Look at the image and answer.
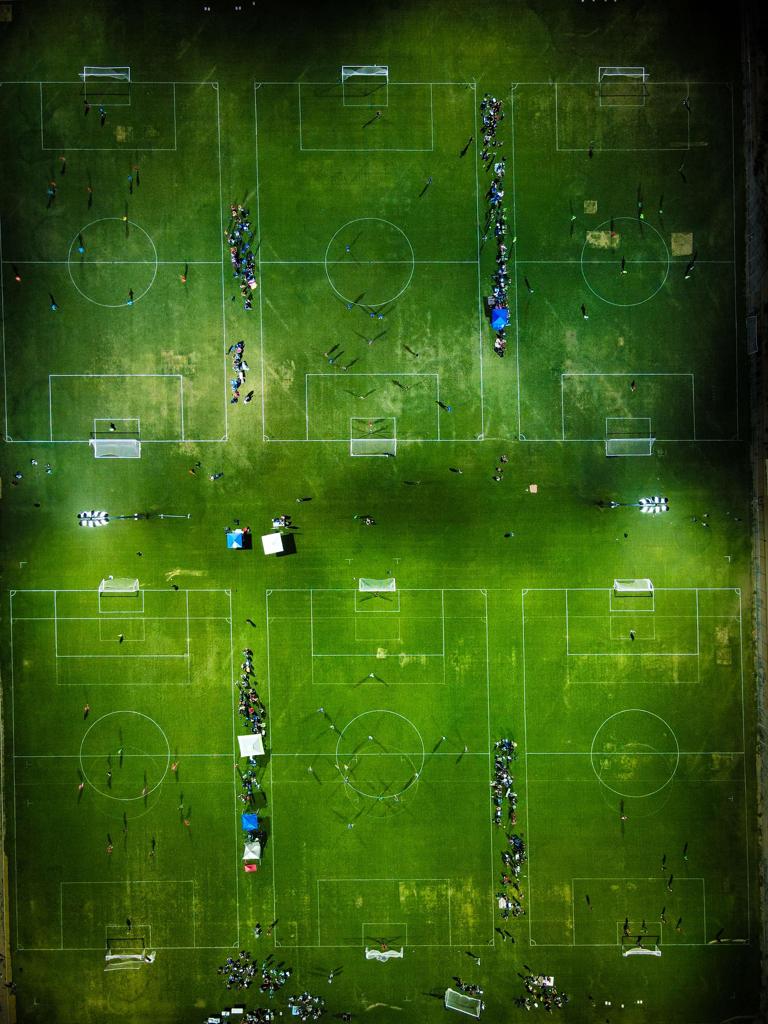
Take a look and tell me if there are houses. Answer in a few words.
No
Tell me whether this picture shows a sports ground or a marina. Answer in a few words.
sports ground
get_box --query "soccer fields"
[523,588,749,946]
[513,83,739,440]
[0,83,227,441]
[11,590,239,949]
[267,589,494,947]
[256,83,483,440]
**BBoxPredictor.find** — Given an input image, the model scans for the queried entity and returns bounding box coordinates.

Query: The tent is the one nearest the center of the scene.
[262,533,286,554]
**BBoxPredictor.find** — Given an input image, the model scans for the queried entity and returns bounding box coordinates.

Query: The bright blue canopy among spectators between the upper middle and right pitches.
[490,309,508,332]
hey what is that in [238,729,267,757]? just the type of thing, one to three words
tent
